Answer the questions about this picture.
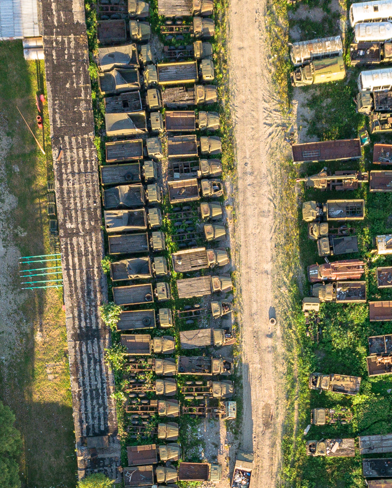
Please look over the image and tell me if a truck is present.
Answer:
Yes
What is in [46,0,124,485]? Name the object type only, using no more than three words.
shed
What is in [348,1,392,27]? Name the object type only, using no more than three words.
bus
